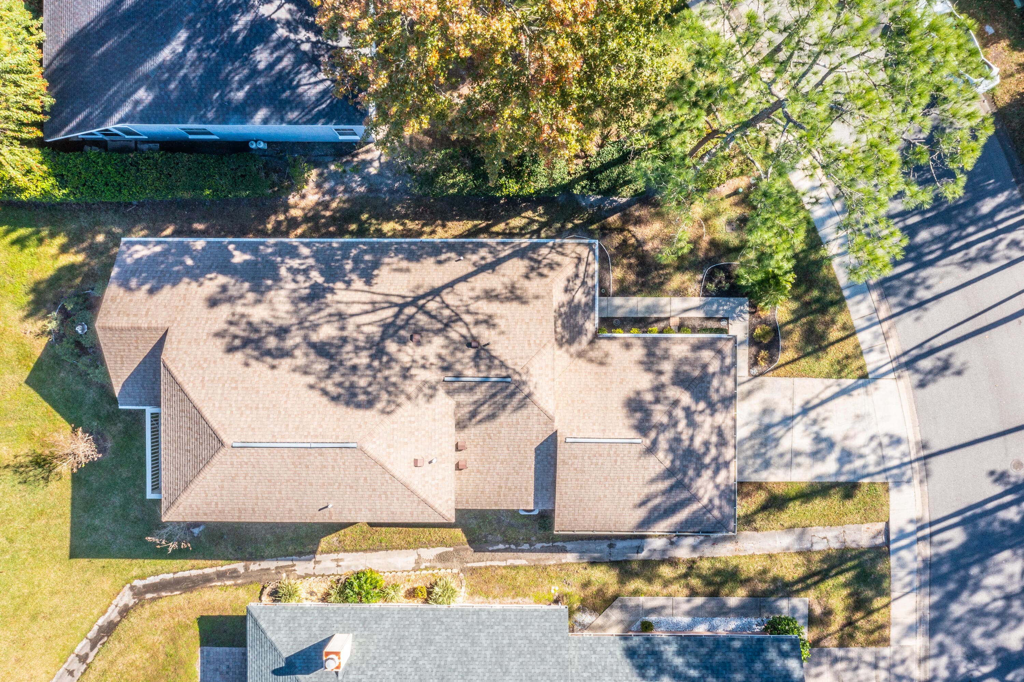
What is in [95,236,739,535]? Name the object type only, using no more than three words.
house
